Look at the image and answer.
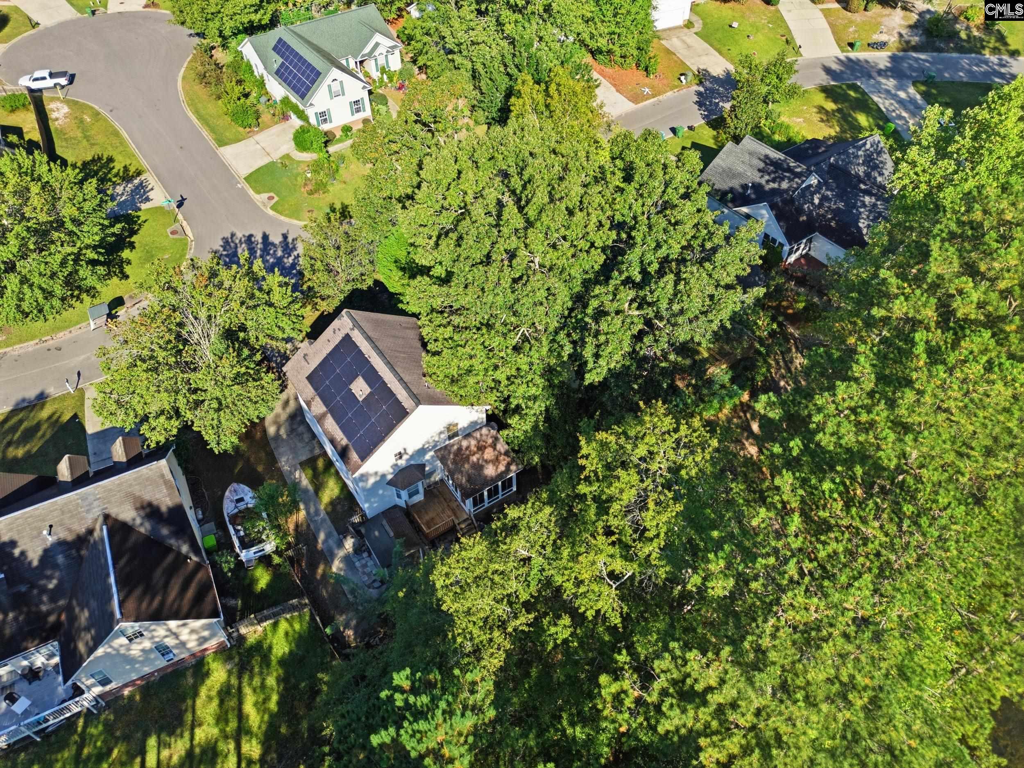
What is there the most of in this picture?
trees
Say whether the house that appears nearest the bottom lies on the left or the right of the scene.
left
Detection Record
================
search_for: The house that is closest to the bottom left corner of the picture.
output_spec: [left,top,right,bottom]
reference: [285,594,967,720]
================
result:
[0,434,238,704]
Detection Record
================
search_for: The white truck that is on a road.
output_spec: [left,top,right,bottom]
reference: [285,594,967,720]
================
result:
[20,69,78,91]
